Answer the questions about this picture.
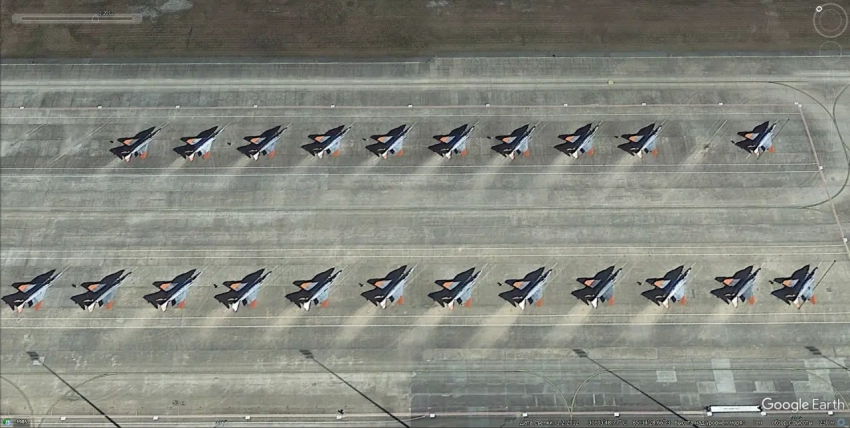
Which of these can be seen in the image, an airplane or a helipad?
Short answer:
airplane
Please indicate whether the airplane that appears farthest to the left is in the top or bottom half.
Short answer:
bottom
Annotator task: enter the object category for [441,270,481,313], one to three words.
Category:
airplane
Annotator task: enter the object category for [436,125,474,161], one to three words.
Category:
airplane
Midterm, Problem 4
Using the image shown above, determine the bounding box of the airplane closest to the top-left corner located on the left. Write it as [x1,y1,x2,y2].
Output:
[115,128,159,163]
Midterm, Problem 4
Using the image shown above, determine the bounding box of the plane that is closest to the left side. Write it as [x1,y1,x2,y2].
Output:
[9,272,59,315]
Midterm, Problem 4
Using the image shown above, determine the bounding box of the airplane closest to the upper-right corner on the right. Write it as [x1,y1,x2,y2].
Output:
[743,123,778,158]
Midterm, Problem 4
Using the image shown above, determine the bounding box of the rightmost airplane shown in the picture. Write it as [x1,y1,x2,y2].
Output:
[784,267,819,309]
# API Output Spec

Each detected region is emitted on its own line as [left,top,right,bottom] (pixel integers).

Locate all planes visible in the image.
[628,124,662,160]
[784,267,819,309]
[498,124,536,161]
[370,268,413,310]
[225,270,271,314]
[115,128,159,163]
[563,124,598,160]
[9,272,59,315]
[441,270,481,313]
[654,268,692,310]
[310,127,349,163]
[245,126,286,163]
[511,269,552,312]
[584,268,623,310]
[373,125,412,162]
[180,128,222,163]
[81,271,129,315]
[743,123,778,158]
[725,268,763,310]
[436,125,474,161]
[154,272,200,314]
[296,270,341,313]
